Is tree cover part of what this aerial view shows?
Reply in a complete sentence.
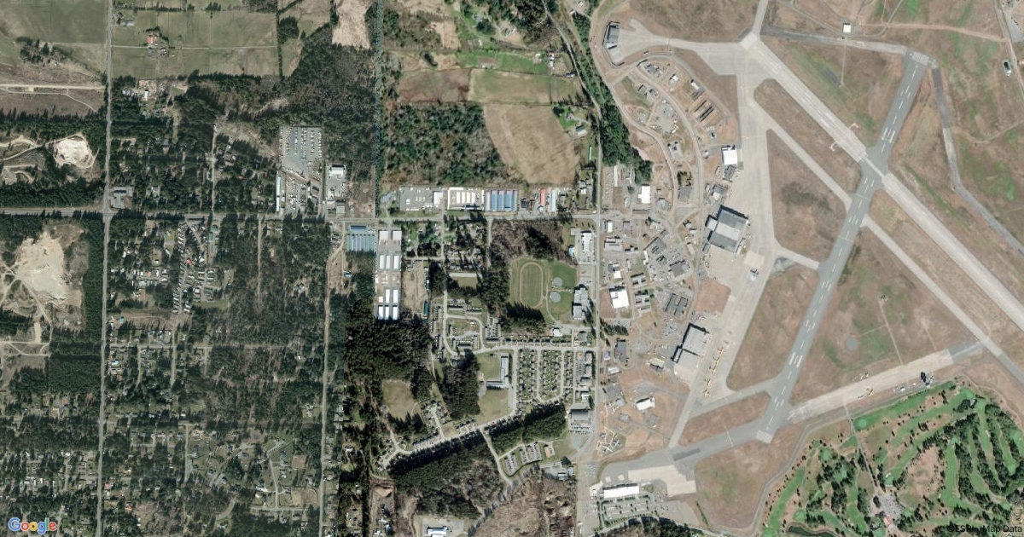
Yes, tree cover shows up in the scene.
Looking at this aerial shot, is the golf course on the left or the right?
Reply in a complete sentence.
The golf course sits on the right side.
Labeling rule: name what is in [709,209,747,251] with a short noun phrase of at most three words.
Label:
hangar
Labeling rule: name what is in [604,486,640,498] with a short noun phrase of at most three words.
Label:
building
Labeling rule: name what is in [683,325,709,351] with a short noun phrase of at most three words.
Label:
hangar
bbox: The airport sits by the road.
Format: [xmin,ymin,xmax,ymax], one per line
[601,0,1024,497]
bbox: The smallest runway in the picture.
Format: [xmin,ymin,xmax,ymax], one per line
[788,341,983,423]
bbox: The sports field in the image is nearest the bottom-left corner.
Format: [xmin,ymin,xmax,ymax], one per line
[384,383,414,416]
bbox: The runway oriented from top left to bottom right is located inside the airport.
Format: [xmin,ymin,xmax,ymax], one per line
[737,27,1024,337]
